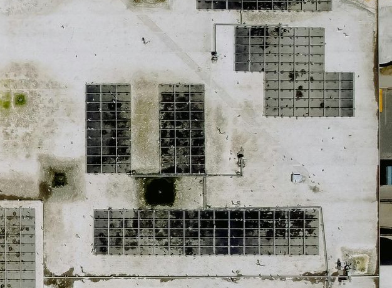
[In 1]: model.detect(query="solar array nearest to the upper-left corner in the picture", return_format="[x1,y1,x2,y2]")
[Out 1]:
[86,82,133,173]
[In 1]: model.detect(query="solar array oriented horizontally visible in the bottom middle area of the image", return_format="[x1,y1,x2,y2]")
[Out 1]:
[93,207,322,255]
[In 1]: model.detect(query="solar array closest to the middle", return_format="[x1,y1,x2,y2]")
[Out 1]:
[158,82,205,173]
